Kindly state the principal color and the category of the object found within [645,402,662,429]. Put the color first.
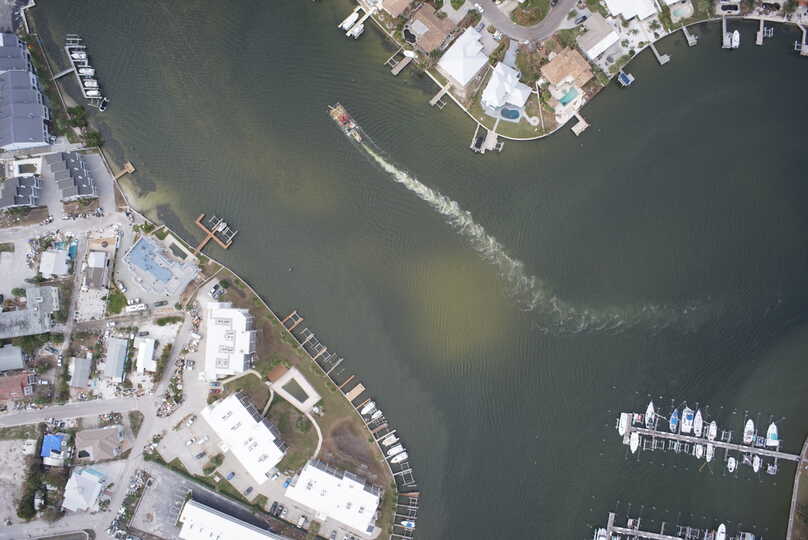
white boat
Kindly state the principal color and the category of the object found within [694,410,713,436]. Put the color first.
white boat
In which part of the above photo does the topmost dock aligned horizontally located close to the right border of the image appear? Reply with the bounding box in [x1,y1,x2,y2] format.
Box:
[624,413,801,464]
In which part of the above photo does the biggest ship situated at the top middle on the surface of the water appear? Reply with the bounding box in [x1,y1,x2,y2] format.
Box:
[325,101,357,135]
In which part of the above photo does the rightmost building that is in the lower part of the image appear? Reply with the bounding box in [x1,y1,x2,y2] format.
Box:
[284,456,381,534]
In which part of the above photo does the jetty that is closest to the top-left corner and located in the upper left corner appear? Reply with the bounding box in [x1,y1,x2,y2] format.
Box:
[54,44,103,99]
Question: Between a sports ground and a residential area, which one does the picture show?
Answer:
residential area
